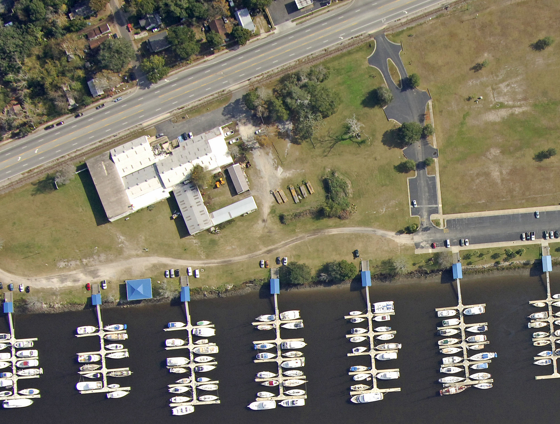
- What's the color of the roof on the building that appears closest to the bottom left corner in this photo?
blue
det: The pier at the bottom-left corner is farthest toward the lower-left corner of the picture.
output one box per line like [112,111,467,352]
[0,312,41,400]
